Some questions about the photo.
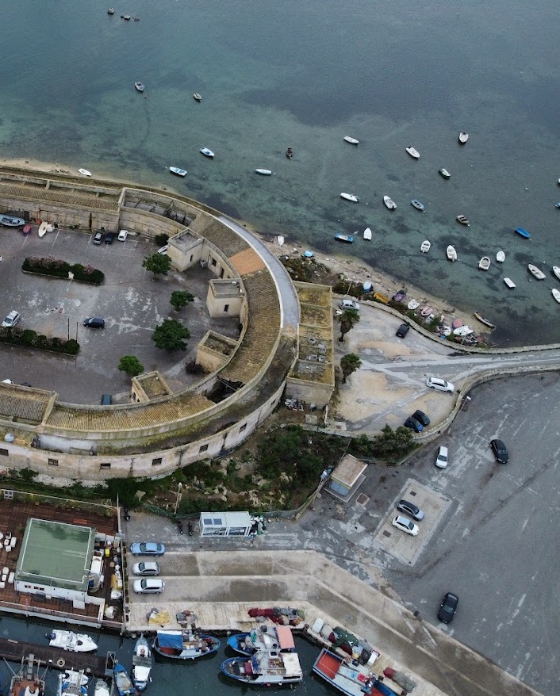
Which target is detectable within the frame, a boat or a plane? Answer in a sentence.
Looking from above, you can make out a boat.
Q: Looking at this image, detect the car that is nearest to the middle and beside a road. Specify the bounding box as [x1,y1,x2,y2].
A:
[338,301,360,314]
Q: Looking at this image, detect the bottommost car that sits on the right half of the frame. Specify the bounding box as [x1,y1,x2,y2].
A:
[437,591,459,624]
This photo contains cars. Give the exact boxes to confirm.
[394,323,409,339]
[118,231,129,243]
[131,540,165,557]
[434,444,451,470]
[437,591,459,624]
[395,497,426,522]
[3,310,20,326]
[338,301,360,314]
[133,577,165,595]
[391,514,420,539]
[83,317,105,330]
[425,376,454,395]
[104,231,116,244]
[400,417,427,437]
[488,439,508,464]
[93,231,104,245]
[132,560,161,578]
[407,409,434,429]
[100,389,113,407]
